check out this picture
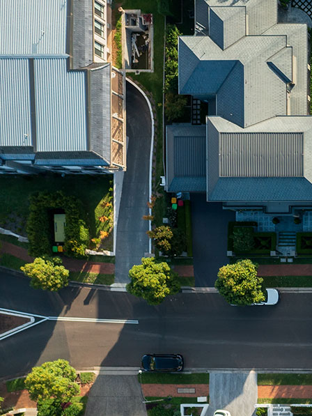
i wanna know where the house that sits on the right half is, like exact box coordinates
[164,0,312,247]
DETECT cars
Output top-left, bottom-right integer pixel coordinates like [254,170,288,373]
[213,408,232,416]
[141,354,186,371]
[248,287,280,306]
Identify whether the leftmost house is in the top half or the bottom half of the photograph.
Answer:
top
